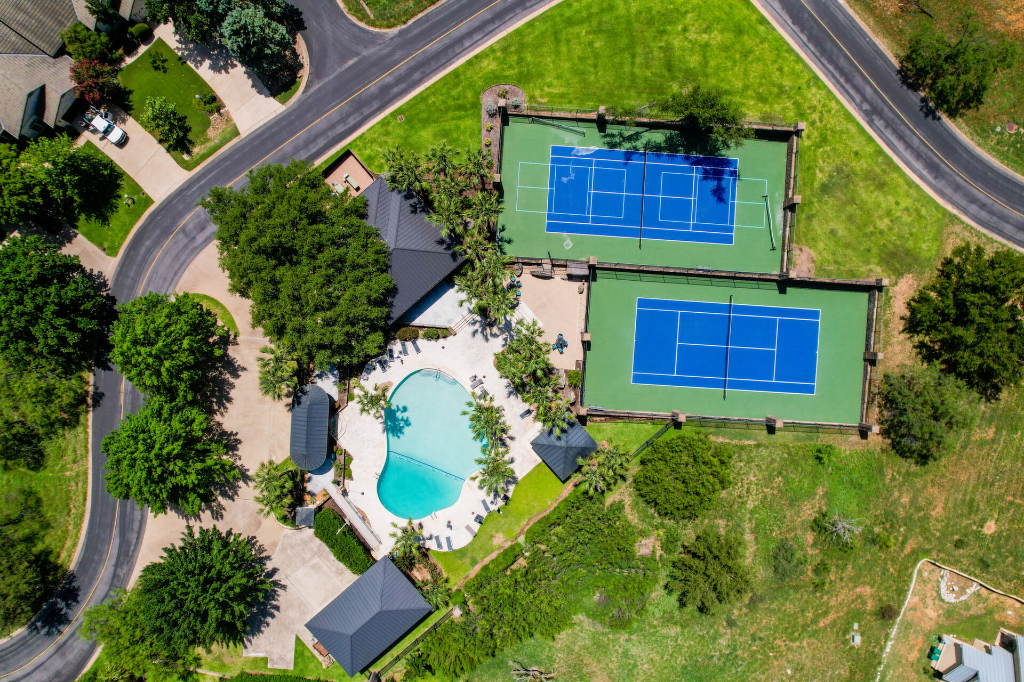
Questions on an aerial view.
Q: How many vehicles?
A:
one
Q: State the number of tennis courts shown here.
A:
2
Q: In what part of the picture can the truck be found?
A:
top left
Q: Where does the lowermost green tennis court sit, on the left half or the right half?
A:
right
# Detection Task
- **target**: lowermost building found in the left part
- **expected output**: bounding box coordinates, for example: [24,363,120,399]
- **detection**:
[305,555,433,678]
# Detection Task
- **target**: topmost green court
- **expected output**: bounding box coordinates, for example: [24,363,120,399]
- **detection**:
[498,114,788,275]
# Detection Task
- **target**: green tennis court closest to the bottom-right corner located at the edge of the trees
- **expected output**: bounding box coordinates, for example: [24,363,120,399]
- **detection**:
[583,267,870,425]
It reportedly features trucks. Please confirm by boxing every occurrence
[79,106,129,146]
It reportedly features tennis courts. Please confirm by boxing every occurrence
[498,114,788,275]
[583,267,870,425]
